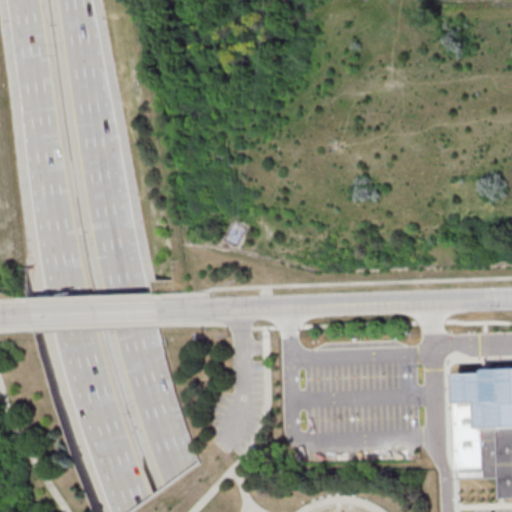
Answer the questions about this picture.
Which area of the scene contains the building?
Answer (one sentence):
The building sits in the bottom right section of the image.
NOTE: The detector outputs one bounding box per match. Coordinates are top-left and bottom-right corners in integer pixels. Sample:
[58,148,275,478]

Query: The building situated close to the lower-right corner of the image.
[449,368,512,498]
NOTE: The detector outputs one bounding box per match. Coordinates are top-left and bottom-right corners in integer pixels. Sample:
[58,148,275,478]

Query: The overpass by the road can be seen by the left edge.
[20,294,166,332]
